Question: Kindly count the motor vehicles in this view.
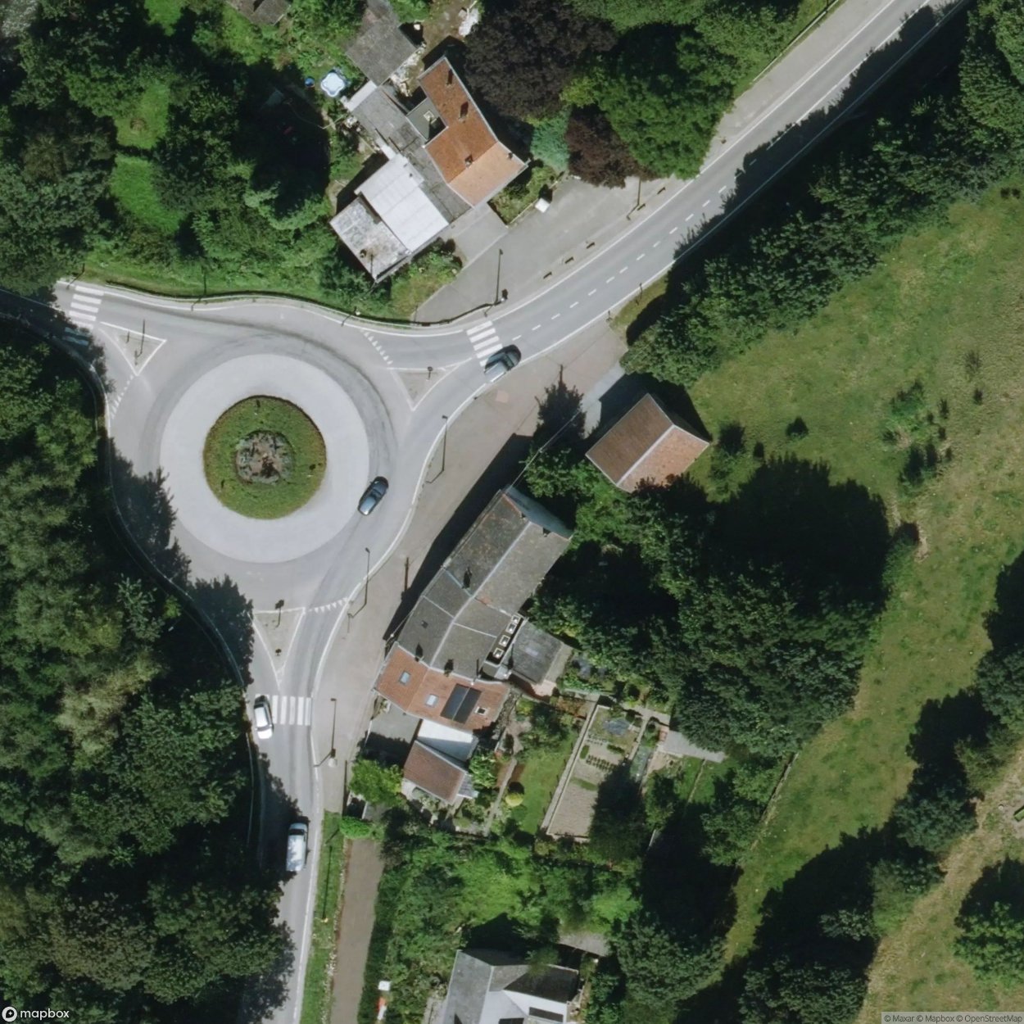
4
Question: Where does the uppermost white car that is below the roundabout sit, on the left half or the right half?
left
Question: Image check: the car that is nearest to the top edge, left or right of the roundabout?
to the right of it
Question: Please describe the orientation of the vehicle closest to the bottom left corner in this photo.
from top to bottom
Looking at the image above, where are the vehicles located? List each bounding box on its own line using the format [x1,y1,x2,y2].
[287,825,308,872]
[254,698,275,737]
[482,344,524,378]
[358,476,389,516]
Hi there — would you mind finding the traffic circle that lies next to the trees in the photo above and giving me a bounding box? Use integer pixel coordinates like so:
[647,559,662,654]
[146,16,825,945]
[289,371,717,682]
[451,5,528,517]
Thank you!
[163,355,367,561]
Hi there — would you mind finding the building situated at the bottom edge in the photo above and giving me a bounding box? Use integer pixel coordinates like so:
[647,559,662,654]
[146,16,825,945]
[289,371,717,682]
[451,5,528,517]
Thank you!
[444,946,583,1024]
